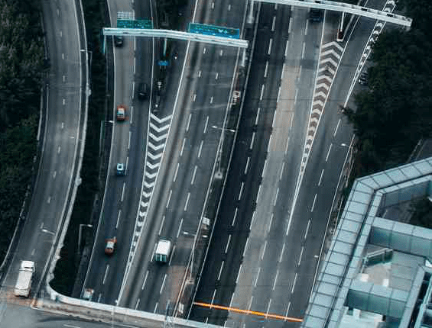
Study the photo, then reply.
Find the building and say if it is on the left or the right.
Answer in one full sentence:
You can find the building on the right side of the picture.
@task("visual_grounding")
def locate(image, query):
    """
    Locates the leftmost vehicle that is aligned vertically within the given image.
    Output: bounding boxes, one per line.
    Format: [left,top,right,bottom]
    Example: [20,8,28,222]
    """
[13,255,35,293]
